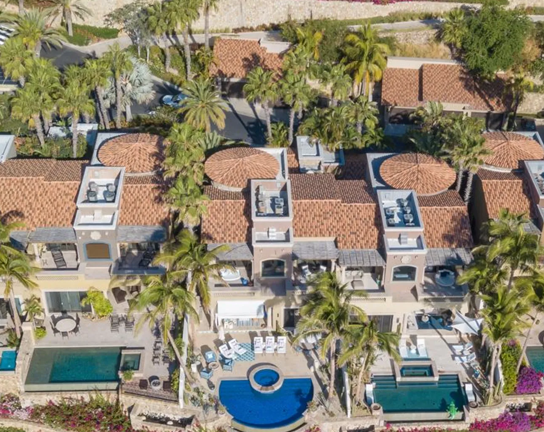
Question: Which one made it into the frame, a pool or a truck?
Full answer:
Of the two, only a pool appears.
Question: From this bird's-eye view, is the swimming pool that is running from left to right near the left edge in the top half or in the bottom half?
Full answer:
The bottom half of the photo is where the swimming pool that is running from left to right near the left edge is.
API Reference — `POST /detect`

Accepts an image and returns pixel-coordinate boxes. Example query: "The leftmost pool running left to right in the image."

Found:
[24,344,126,393]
